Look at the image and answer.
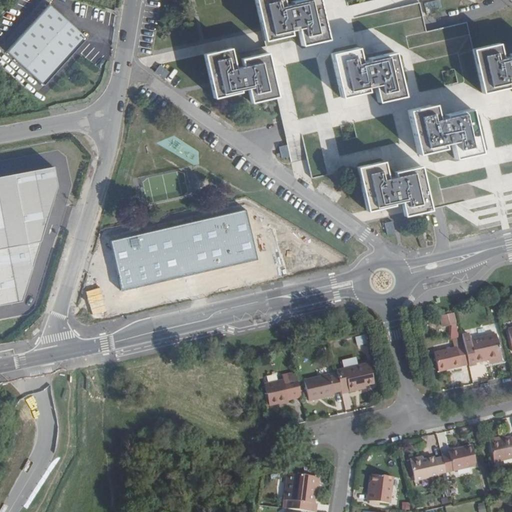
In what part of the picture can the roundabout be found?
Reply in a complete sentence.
The roundabout is located in the right region of the scene.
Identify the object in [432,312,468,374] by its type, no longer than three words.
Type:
house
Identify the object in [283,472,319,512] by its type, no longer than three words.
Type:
house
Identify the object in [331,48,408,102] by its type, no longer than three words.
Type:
building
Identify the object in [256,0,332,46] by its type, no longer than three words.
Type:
building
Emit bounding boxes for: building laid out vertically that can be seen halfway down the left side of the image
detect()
[0,167,59,306]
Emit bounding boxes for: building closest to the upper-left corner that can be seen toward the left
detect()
[9,5,84,84]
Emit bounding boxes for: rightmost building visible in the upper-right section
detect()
[472,44,512,94]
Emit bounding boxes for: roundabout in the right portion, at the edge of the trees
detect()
[356,254,410,308]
